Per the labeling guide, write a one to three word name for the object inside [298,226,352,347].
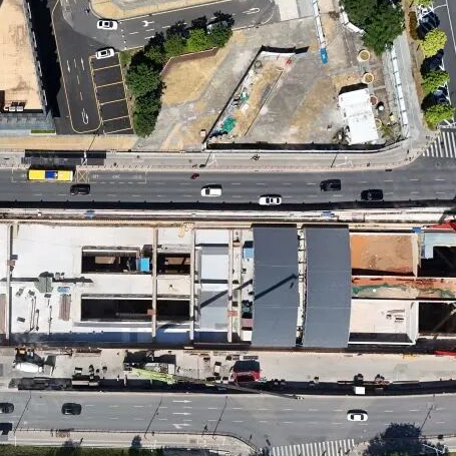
shed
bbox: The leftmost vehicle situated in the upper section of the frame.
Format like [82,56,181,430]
[27,169,75,181]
